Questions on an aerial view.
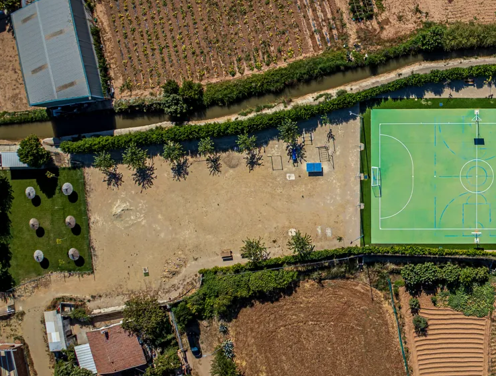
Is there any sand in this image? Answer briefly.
Yes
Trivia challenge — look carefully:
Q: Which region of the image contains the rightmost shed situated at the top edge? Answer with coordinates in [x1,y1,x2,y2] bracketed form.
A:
[10,0,104,107]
